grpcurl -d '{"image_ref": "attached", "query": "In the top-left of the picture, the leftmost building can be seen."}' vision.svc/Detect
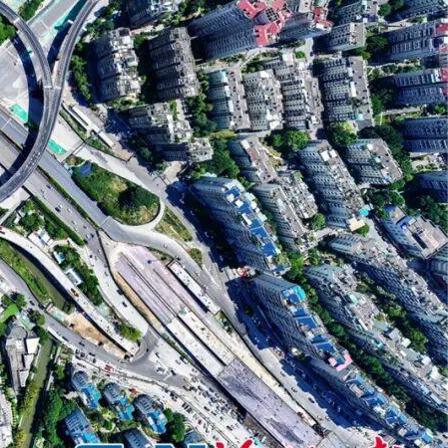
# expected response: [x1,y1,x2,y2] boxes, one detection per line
[99,32,141,98]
